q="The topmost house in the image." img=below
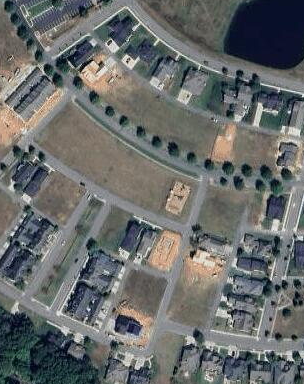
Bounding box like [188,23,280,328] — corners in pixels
[105,14,136,46]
